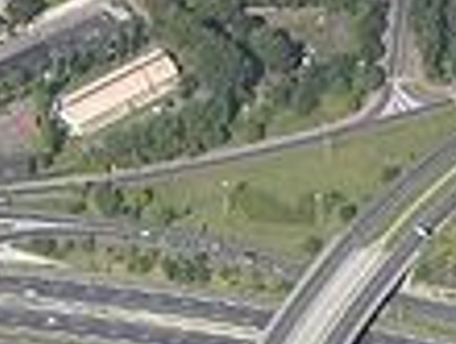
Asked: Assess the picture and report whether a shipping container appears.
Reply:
No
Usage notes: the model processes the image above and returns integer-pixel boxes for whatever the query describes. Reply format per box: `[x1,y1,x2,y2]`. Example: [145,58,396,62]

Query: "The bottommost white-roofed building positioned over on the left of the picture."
[52,49,181,142]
